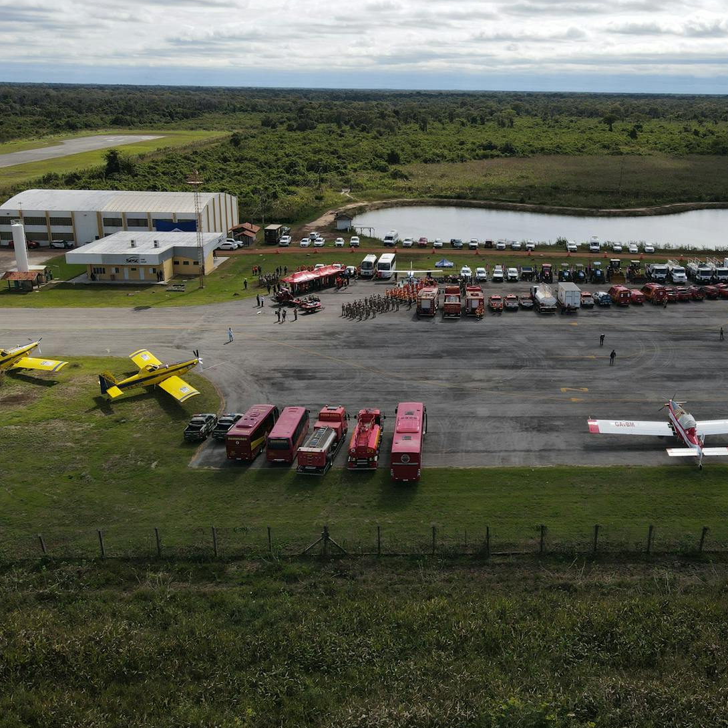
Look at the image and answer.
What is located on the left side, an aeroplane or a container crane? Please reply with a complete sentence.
It is an aeroplane that can be seen on the left side.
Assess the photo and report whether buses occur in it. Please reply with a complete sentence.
Yes, the picture does show a bus.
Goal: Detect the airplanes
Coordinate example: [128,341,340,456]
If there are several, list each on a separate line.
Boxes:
[0,330,89,375]
[94,348,210,404]
[381,263,447,285]
[584,392,728,468]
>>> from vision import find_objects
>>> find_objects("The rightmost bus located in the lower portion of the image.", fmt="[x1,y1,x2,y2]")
[391,405,427,480]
